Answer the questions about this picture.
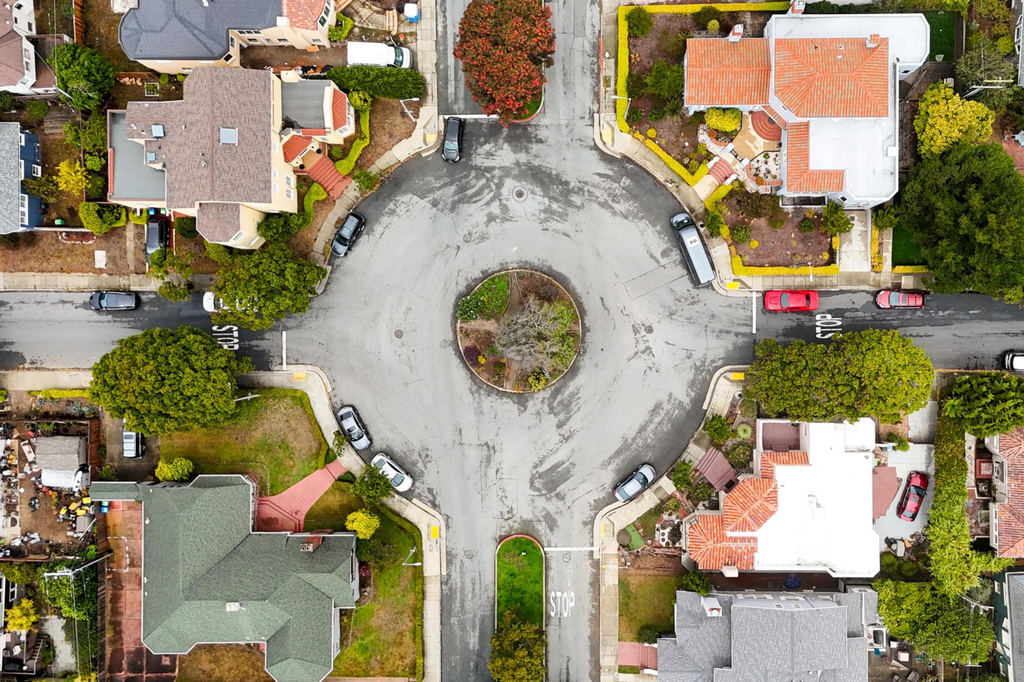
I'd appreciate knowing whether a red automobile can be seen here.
Yes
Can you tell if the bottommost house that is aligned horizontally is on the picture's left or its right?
right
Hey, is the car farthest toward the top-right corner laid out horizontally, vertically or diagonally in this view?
horizontally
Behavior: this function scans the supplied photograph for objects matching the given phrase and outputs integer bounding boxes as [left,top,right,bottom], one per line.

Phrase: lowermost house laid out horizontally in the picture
[652,579,889,682]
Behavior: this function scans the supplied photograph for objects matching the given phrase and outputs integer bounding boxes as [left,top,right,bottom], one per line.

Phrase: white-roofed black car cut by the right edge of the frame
[997,350,1024,371]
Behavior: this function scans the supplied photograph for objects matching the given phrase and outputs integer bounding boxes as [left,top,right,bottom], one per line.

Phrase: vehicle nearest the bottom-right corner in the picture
[892,468,928,523]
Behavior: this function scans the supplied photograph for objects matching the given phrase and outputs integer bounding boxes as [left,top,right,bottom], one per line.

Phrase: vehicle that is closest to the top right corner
[872,287,924,312]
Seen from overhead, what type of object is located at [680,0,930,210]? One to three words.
house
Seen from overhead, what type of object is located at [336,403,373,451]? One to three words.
car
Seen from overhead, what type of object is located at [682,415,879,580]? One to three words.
house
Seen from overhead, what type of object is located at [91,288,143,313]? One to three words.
car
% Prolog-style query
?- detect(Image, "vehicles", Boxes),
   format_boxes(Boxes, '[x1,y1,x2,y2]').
[761,288,817,313]
[611,460,658,504]
[203,289,236,314]
[665,212,718,287]
[997,350,1024,371]
[331,208,369,258]
[440,113,467,163]
[345,34,414,74]
[119,424,149,466]
[144,214,173,265]
[91,288,143,313]
[370,448,415,493]
[336,403,373,451]
[892,468,928,523]
[872,287,924,312]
